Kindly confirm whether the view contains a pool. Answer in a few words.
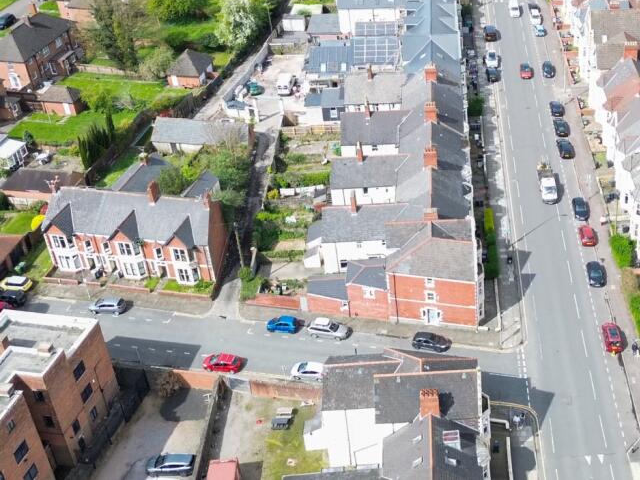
No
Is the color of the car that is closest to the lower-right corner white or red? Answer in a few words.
red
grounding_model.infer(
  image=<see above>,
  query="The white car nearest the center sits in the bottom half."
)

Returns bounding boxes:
[302,317,349,341]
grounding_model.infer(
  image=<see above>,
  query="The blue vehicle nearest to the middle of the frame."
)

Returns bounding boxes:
[262,315,303,335]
